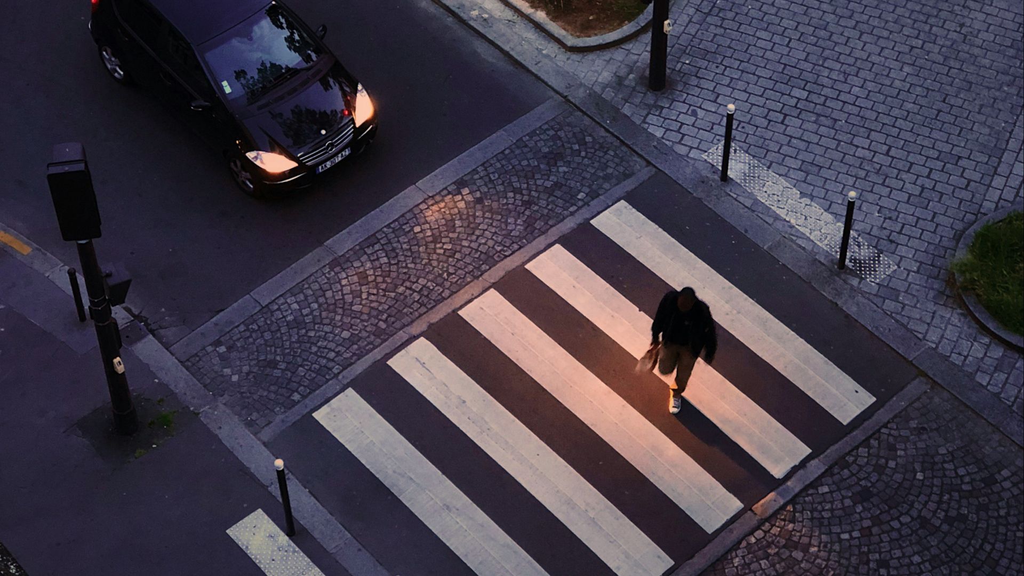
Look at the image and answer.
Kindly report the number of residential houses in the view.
0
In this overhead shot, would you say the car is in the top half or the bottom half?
top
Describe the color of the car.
black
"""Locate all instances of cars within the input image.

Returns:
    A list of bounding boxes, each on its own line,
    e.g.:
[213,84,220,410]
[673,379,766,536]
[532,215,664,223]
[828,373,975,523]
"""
[98,0,375,198]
